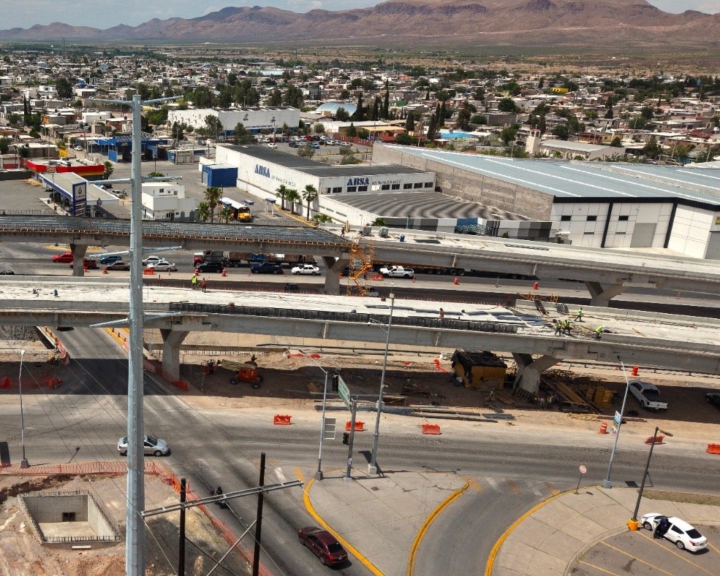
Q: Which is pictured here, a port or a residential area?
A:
residential area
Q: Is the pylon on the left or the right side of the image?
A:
left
